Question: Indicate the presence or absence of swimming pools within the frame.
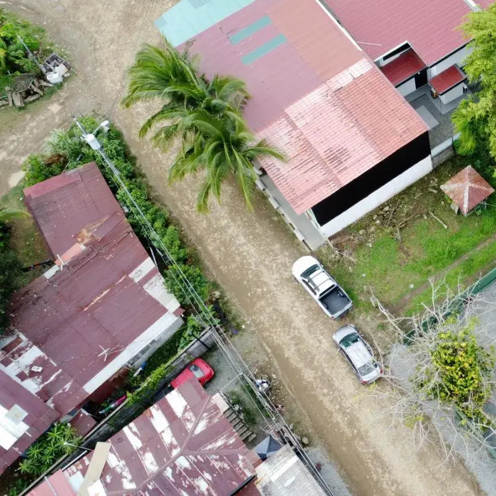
No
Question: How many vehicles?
3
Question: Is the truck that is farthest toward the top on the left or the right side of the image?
right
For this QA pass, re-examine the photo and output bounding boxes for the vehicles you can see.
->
[157,357,220,398]
[296,257,355,324]
[334,326,383,385]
